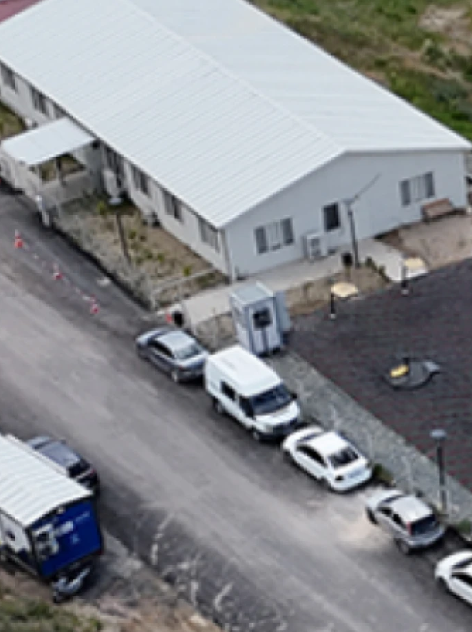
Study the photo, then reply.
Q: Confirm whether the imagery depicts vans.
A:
Yes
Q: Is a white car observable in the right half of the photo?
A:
Yes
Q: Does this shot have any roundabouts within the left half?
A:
No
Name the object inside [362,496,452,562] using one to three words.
car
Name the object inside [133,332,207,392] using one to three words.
car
